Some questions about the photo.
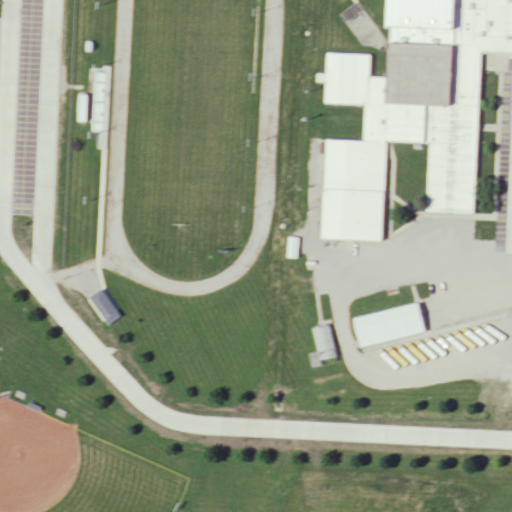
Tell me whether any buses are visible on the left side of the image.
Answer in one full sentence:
No, there is no bus on the left side of the image.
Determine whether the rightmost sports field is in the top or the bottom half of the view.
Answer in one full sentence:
The top half of the photo is where the rightmost sports field is.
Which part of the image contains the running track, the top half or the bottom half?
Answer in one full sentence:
The running track sits in the top half of the picture.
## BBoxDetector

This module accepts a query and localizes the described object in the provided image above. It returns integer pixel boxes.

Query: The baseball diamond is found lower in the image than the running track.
[0,400,188,512]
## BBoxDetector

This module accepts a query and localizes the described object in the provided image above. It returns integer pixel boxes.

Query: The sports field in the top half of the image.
[123,0,266,281]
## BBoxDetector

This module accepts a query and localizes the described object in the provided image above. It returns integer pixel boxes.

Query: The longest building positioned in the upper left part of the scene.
[76,92,90,123]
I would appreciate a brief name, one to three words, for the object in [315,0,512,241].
building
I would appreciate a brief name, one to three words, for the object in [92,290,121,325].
shed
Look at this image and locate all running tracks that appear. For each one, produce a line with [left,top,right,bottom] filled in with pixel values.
[105,0,286,297]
